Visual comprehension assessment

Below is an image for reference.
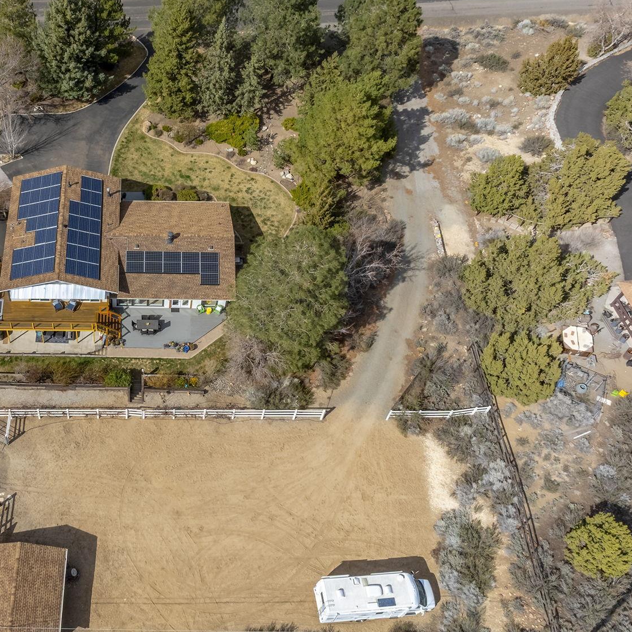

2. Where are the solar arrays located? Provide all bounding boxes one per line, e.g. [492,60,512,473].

[66,175,104,283]
[6,171,58,283]
[127,253,222,287]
